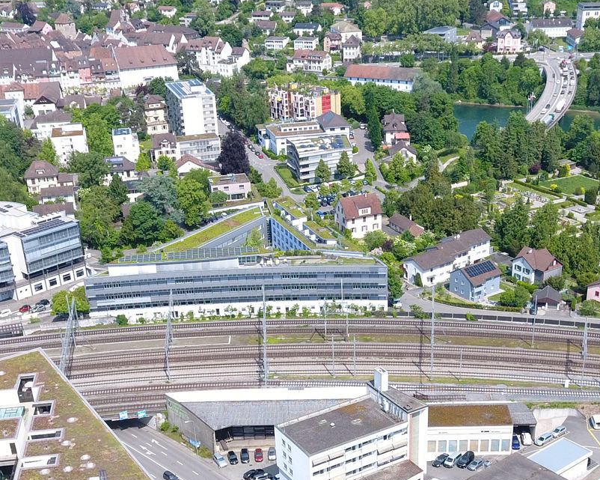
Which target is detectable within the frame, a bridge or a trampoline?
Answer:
bridge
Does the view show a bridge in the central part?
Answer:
No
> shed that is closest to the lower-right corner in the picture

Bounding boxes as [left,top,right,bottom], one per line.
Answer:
[528,437,593,480]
